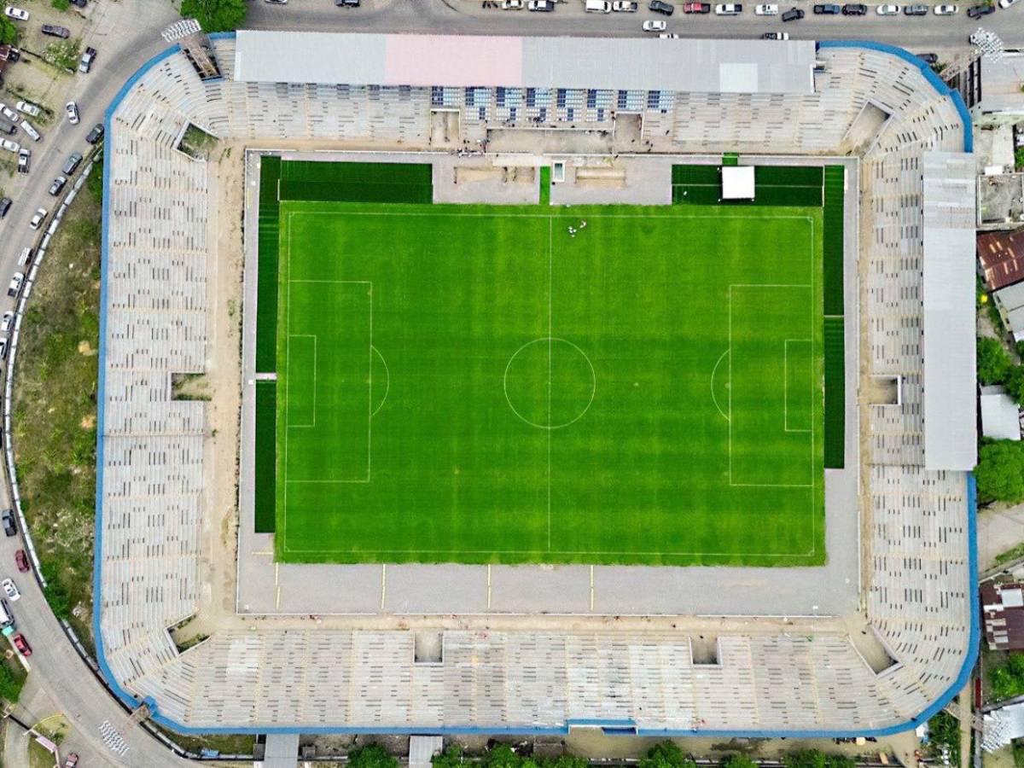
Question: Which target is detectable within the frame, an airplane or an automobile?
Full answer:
The one in the frame is an automobile.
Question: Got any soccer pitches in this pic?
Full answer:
Yes, the photo shows a soccer pitch.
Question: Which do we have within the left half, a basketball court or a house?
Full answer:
The feature located within the left half is a house.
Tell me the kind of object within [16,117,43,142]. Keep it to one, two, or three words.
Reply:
truck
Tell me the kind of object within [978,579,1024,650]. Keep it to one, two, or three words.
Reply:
house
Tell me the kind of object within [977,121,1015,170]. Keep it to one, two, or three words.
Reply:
house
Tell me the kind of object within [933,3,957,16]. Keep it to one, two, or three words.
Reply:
vehicle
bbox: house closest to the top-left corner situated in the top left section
[0,46,29,79]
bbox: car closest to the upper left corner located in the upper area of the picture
[7,6,30,21]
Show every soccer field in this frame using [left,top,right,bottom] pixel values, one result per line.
[255,153,844,566]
